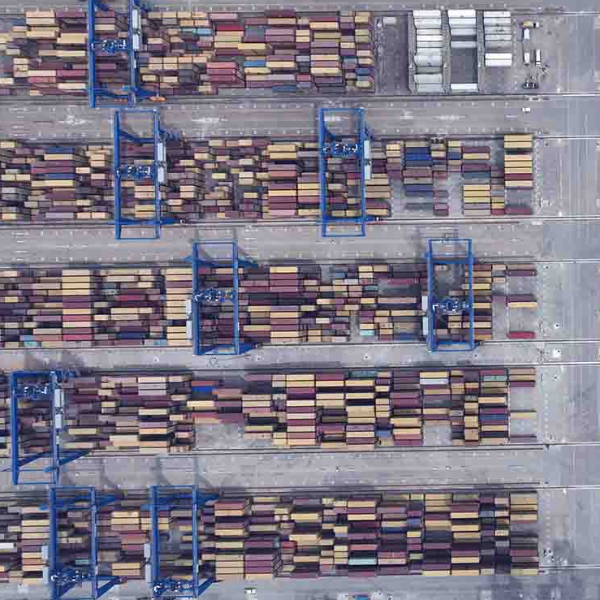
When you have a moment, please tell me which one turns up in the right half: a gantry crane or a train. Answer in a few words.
gantry crane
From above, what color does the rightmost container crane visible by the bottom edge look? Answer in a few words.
blue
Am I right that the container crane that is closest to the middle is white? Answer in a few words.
No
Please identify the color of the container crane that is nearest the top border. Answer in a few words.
blue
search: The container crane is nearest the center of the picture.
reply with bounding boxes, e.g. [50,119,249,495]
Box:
[185,240,260,356]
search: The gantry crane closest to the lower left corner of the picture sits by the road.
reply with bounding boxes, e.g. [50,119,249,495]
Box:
[42,485,125,600]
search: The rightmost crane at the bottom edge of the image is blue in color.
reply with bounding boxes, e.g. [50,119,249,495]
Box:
[143,485,220,600]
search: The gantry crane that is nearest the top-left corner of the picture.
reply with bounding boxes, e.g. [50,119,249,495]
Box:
[86,0,164,108]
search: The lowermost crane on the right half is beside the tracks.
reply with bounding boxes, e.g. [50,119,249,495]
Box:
[420,238,482,352]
